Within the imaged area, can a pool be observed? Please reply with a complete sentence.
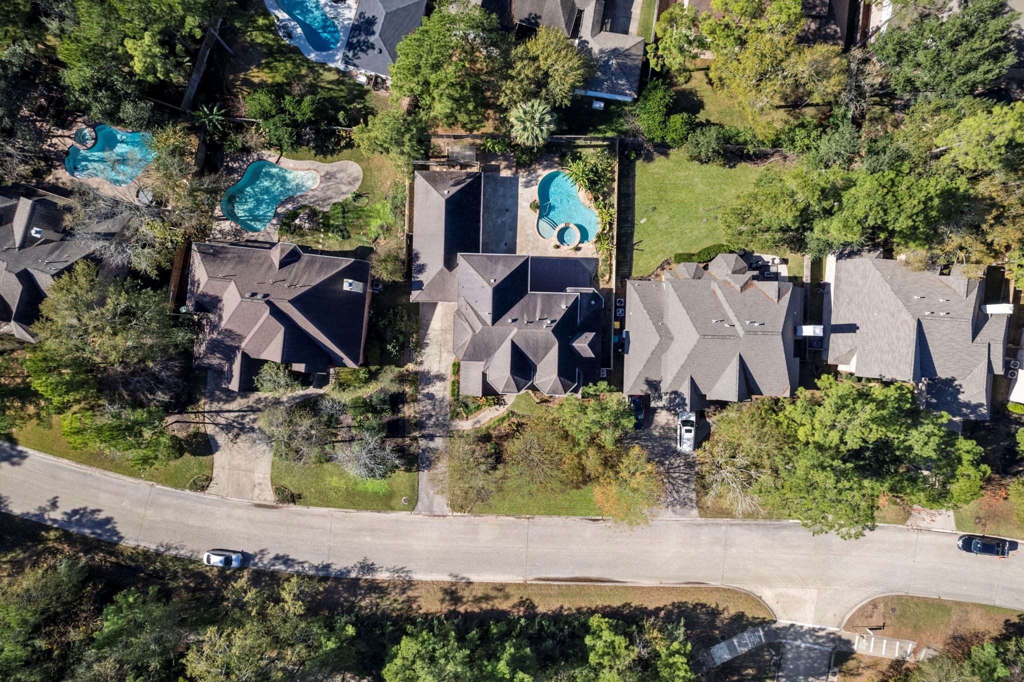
Yes, the picture does show a pool.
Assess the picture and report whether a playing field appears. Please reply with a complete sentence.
No, there isn't any playing field down there.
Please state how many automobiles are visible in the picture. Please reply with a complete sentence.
My tally gives 4 automobiles in this view.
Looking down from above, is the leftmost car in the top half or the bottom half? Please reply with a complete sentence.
The leftmost car is in the bottom half of the image.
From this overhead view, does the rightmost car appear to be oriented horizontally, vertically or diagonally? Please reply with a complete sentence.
The rightmost car is oriented horizontally.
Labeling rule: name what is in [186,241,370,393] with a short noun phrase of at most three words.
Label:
house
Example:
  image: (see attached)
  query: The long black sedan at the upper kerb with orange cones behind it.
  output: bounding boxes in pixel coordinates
[956,533,1010,557]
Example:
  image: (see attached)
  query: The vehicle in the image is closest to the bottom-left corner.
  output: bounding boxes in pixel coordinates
[202,548,244,569]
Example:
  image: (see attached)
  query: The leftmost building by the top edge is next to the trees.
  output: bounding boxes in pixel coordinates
[341,0,428,82]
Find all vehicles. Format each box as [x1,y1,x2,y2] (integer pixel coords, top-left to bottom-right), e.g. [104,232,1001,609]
[956,533,1010,557]
[626,396,646,433]
[677,411,698,453]
[202,548,244,569]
